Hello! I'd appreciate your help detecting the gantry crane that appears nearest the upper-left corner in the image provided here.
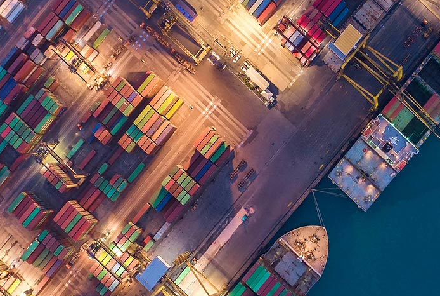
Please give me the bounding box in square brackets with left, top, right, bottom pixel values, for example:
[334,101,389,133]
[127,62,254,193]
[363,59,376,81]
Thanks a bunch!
[51,38,112,91]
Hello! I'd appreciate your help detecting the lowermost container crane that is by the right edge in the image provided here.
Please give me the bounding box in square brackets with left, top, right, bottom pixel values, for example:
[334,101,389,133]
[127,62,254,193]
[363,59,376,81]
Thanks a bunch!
[320,24,440,145]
